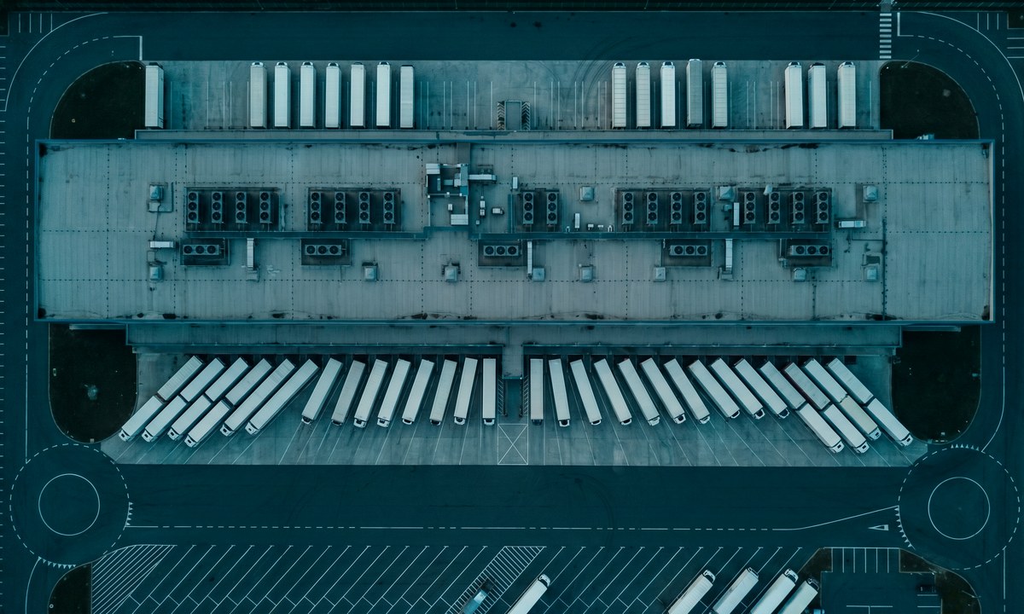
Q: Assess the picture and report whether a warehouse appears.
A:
Yes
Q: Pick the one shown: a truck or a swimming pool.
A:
truck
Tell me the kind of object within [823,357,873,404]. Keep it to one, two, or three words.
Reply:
trailer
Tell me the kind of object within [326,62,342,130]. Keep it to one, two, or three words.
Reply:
vehicle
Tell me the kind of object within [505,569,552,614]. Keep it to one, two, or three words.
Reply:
truck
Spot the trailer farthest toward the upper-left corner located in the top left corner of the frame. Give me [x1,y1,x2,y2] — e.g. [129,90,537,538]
[146,63,165,129]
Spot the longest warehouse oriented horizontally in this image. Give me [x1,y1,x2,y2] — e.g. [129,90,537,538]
[35,126,995,378]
